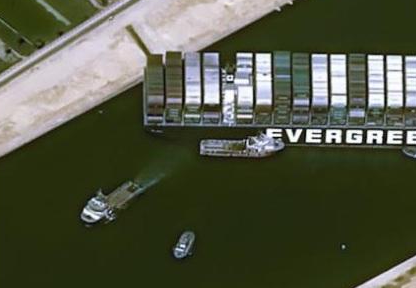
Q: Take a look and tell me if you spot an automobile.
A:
No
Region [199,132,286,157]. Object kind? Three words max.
boat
